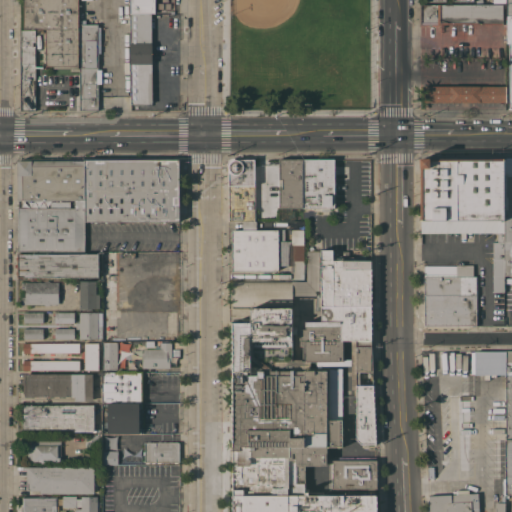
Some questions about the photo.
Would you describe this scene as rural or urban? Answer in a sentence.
The area is urban.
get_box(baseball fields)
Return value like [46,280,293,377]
[232,0,371,109]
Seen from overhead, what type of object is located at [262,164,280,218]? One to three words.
building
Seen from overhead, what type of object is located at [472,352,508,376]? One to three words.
shed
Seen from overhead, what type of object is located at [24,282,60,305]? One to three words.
house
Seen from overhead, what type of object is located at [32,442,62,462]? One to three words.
house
